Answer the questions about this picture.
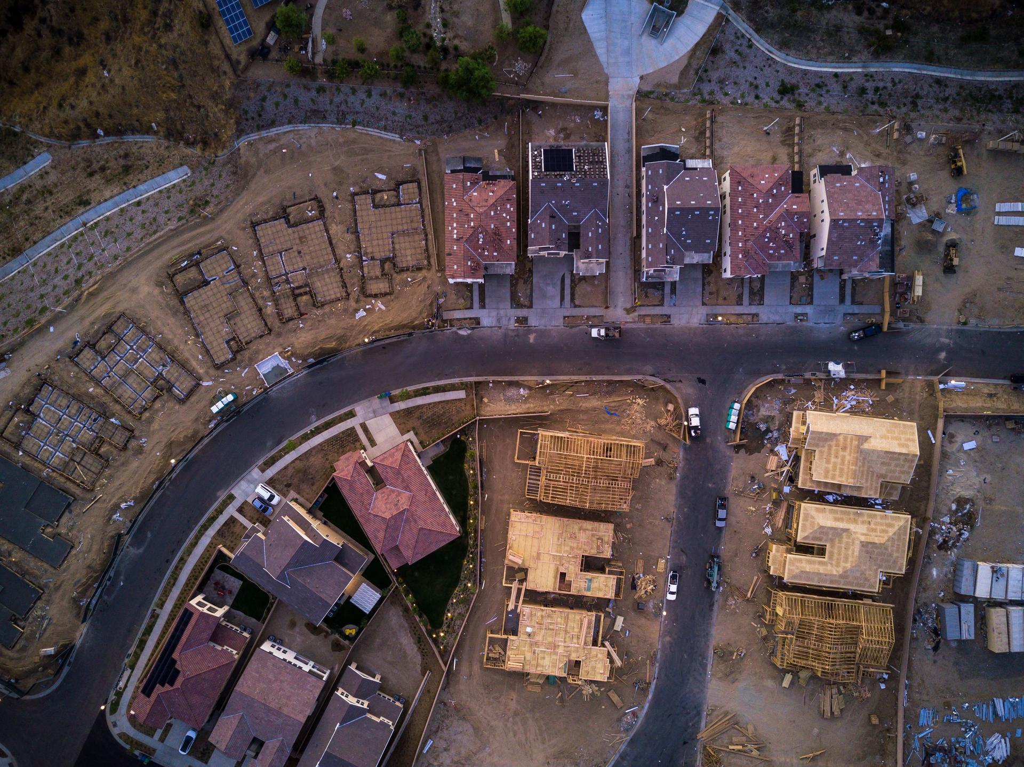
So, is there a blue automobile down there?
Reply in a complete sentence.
Yes, I can see a blue automobile in this picture.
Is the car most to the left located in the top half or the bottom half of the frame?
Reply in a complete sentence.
The car most to the left is in the bottom half of the image.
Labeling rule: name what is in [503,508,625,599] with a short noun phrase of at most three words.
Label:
house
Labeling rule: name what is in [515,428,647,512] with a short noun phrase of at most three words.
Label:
house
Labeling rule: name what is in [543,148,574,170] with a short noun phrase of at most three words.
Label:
solar panel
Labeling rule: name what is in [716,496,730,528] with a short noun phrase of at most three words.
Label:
vehicle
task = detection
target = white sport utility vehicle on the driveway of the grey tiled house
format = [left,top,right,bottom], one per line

[254,482,280,506]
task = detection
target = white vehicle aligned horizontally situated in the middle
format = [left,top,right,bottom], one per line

[591,326,623,341]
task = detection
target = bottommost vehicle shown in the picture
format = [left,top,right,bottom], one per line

[176,731,196,759]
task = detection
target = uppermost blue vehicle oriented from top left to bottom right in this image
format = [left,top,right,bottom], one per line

[249,497,273,517]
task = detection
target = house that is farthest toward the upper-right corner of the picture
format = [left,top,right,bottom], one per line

[811,164,895,279]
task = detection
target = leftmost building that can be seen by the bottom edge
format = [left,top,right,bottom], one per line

[130,593,255,730]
